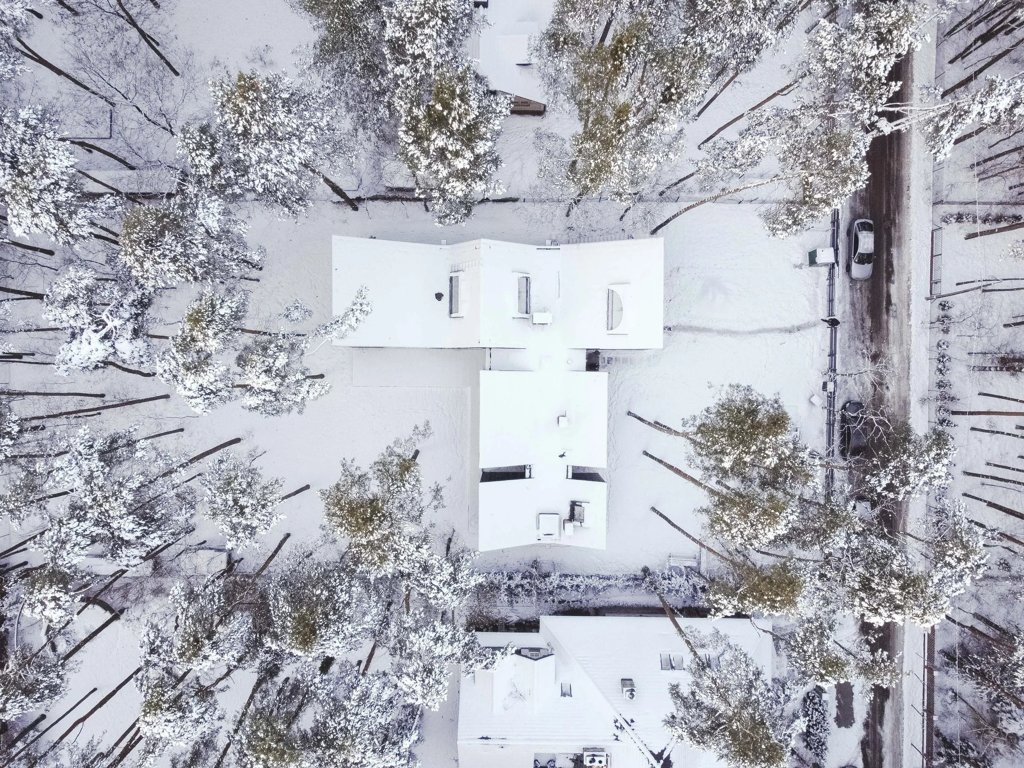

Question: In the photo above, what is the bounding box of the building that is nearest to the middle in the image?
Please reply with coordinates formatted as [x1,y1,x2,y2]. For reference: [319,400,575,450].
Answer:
[330,236,663,550]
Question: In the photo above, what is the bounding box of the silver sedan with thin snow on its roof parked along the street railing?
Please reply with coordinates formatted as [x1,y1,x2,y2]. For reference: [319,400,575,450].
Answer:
[845,220,878,283]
